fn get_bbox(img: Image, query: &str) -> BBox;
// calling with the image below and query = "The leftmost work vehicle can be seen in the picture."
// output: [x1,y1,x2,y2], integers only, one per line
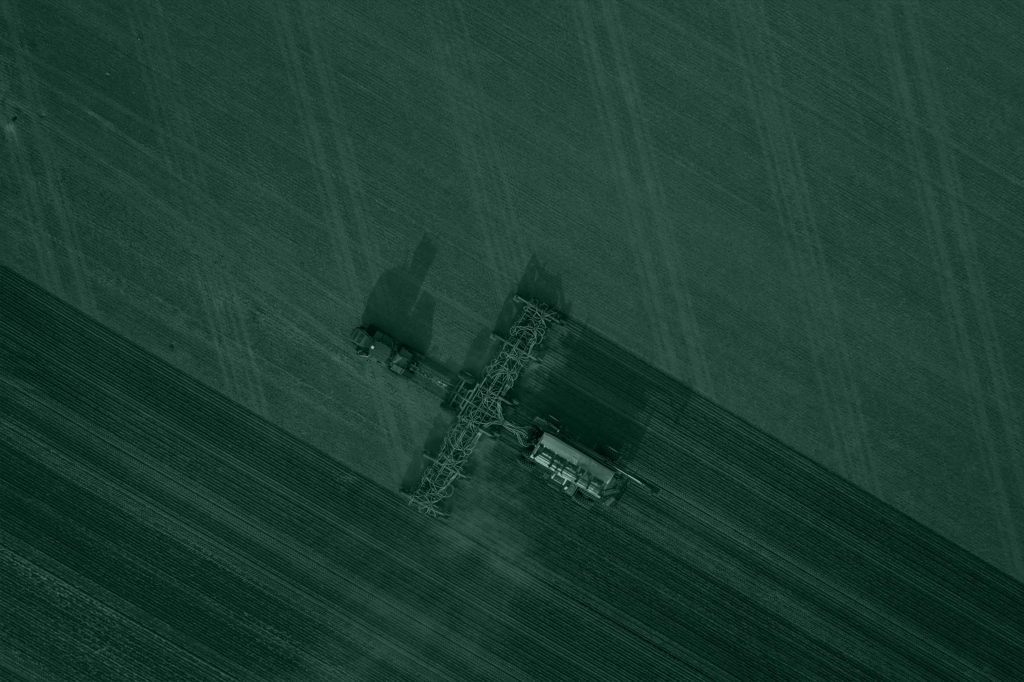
[352,324,427,383]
